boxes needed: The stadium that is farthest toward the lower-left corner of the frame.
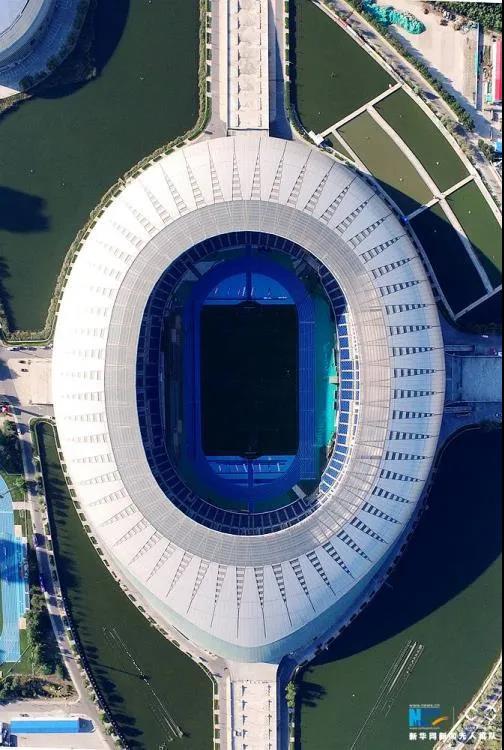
[52,136,445,661]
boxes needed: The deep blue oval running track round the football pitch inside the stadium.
[165,247,333,510]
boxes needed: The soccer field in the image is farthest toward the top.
[201,300,297,461]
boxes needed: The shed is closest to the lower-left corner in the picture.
[10,713,81,733]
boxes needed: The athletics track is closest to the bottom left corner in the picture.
[0,475,26,660]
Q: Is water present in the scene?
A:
Yes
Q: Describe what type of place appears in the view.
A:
sports ground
